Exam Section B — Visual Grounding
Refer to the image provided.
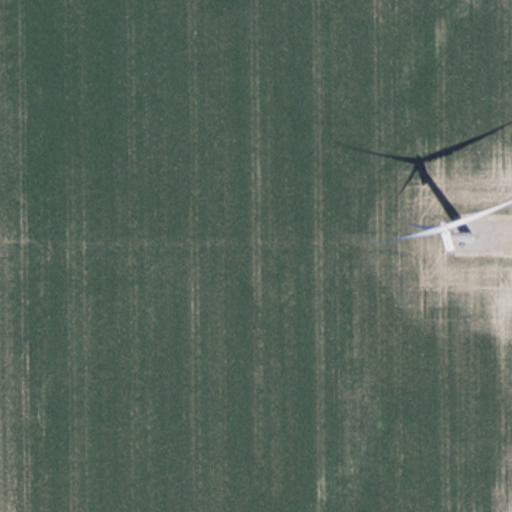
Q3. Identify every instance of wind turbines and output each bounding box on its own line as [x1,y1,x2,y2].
[372,200,512,250]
